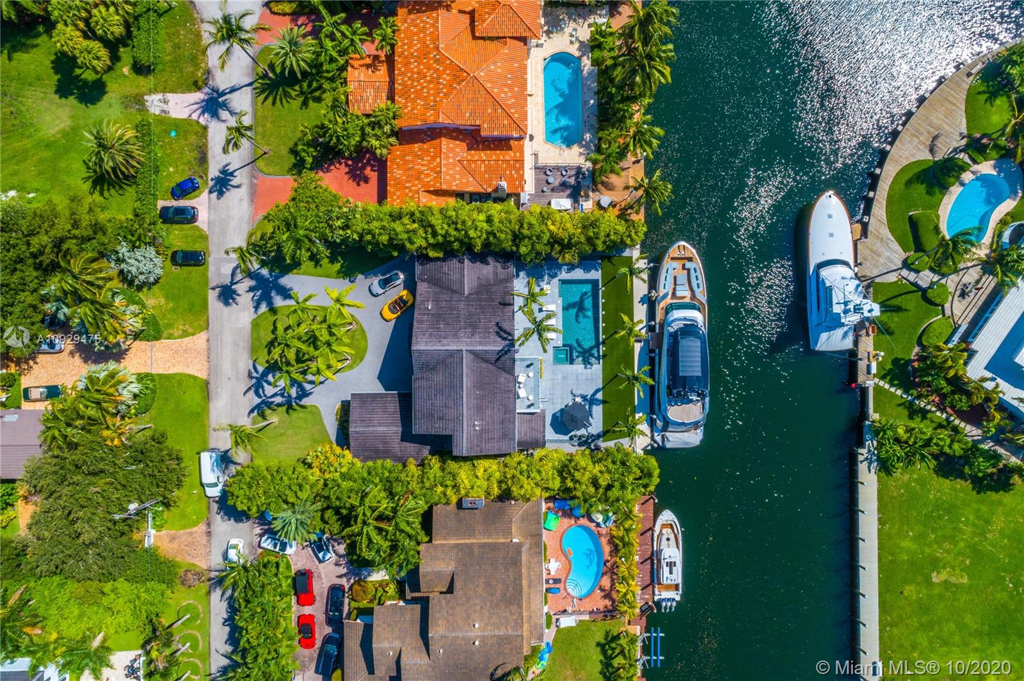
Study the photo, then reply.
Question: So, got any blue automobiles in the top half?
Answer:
Yes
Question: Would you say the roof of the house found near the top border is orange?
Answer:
Yes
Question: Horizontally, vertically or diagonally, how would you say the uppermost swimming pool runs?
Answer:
vertically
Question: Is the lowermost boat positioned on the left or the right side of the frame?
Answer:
right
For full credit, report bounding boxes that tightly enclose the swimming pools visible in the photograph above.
[542,48,585,155]
[553,347,570,365]
[946,172,1011,245]
[559,522,606,609]
[557,278,602,366]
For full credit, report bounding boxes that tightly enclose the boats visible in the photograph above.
[799,190,894,359]
[654,506,682,609]
[653,241,710,448]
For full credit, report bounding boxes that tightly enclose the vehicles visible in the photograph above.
[309,536,336,565]
[378,291,415,321]
[161,205,201,223]
[29,336,68,354]
[169,176,203,201]
[224,536,244,567]
[172,249,206,266]
[294,568,314,605]
[325,584,346,627]
[198,450,224,498]
[367,269,407,297]
[259,534,296,557]
[315,629,342,677]
[22,384,64,402]
[297,614,317,648]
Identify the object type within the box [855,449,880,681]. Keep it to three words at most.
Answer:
pier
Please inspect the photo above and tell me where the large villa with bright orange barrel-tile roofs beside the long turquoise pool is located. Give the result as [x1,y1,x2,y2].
[348,0,541,212]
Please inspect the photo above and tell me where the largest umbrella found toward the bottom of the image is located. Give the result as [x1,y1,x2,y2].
[563,403,591,430]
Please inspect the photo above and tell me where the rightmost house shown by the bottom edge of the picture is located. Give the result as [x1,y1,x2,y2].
[344,491,543,681]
